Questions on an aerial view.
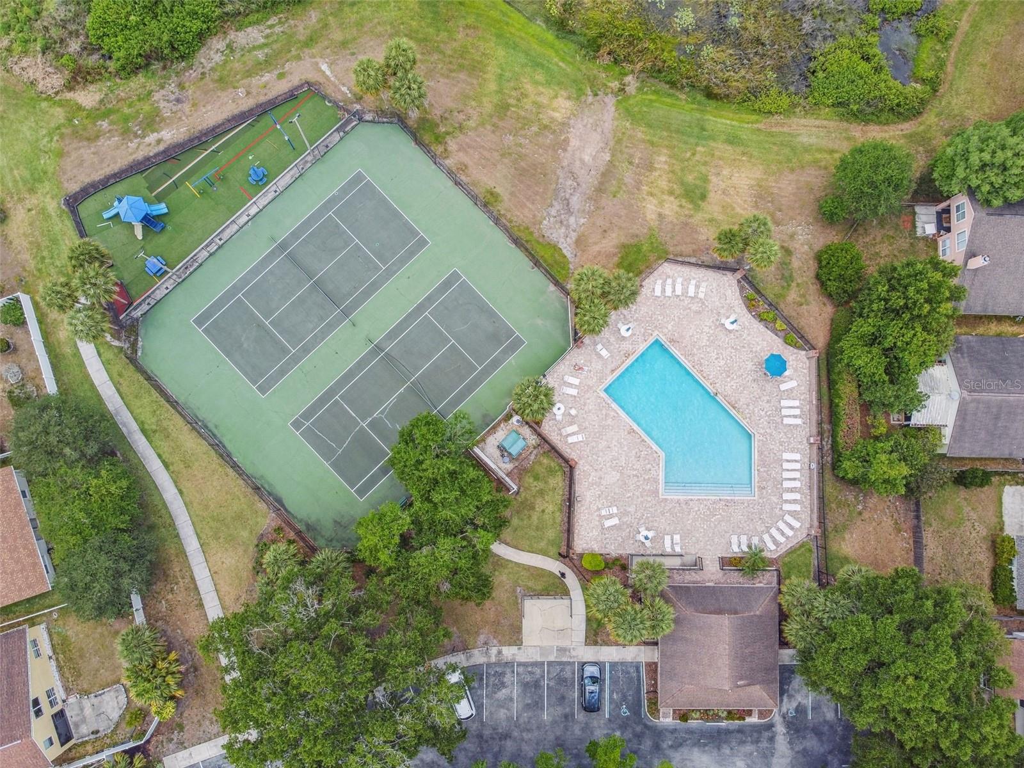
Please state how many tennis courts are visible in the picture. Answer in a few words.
2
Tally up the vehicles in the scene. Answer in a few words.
2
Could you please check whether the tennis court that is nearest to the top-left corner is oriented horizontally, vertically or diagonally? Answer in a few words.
diagonally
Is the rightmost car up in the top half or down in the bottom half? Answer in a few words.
bottom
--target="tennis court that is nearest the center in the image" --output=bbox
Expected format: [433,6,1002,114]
[289,268,527,500]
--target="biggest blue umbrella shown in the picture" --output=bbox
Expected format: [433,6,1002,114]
[763,355,786,378]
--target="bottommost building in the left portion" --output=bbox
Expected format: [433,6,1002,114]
[0,626,74,768]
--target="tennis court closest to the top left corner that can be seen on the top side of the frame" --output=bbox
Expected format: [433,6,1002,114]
[191,169,430,397]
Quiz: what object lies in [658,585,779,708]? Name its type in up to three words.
building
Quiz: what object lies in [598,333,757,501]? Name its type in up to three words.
swimming pool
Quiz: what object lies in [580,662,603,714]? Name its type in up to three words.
car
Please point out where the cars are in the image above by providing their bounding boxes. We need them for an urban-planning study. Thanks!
[445,667,476,722]
[580,662,603,714]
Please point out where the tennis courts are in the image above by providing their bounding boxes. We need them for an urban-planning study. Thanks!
[191,169,430,397]
[289,268,527,500]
